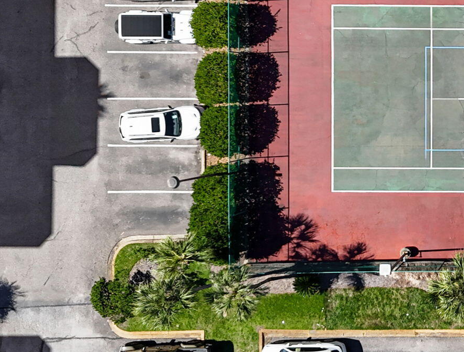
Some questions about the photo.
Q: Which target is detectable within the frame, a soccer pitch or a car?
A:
car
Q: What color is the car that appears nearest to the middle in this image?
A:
white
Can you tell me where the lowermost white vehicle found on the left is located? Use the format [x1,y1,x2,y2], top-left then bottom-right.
[119,102,204,144]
